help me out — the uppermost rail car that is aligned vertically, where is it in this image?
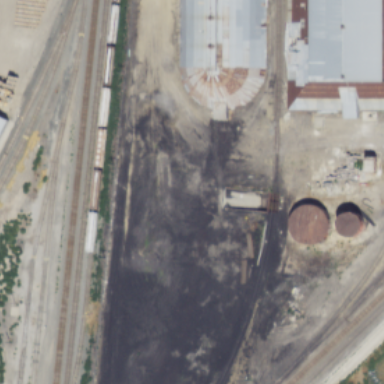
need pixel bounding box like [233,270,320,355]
[108,3,121,44]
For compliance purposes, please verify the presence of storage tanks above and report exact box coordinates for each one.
[336,210,376,238]
[288,204,332,244]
